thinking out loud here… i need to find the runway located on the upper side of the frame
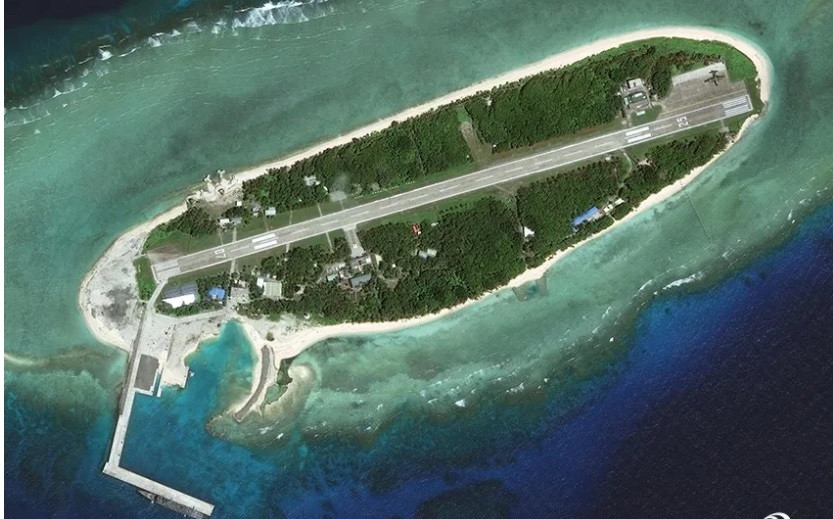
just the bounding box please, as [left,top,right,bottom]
[152,94,752,282]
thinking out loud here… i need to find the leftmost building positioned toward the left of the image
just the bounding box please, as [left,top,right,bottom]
[161,281,198,307]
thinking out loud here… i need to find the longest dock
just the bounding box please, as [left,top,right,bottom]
[102,305,215,517]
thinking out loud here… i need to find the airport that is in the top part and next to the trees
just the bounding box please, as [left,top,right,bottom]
[152,62,752,282]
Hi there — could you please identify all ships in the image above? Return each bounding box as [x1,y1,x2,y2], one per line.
[136,490,210,519]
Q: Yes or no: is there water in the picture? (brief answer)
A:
Yes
